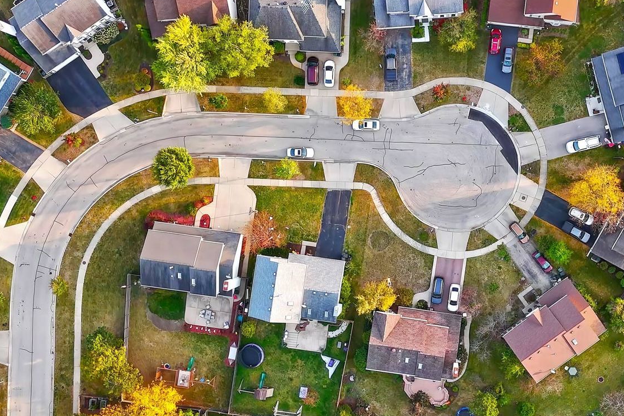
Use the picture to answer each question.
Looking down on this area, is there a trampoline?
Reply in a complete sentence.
Yes, this view includes a trampoline.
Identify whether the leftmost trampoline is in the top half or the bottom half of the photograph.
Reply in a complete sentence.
You can find the leftmost trampoline in the bottom half.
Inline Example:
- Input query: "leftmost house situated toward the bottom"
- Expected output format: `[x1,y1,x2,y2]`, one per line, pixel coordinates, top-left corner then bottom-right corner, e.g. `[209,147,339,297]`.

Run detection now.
[135,222,246,298]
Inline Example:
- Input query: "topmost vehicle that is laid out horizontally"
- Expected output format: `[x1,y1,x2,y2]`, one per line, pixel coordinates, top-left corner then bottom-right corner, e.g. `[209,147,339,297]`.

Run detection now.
[353,119,381,131]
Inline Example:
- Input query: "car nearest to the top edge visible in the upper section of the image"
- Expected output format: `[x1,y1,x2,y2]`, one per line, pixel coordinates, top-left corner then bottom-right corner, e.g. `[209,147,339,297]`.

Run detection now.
[489,28,501,55]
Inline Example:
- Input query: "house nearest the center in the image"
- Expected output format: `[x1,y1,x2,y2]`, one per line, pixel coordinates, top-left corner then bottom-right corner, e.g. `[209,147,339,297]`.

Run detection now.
[250,253,347,324]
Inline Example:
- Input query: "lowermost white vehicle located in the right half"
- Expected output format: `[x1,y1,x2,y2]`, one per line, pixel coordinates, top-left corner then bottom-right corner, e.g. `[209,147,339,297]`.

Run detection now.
[448,284,460,312]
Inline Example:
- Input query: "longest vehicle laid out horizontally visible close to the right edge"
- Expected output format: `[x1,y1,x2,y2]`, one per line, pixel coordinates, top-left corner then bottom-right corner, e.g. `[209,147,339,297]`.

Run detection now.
[565,134,602,153]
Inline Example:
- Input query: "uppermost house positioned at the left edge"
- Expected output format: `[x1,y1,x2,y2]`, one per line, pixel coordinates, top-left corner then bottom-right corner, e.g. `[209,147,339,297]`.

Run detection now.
[0,0,116,74]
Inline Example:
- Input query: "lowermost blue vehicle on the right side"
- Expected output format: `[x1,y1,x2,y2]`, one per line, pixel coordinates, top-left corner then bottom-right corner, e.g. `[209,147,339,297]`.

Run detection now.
[431,277,444,305]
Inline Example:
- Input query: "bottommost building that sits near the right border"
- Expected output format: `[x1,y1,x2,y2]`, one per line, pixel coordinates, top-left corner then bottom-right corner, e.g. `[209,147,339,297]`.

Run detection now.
[502,277,606,383]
